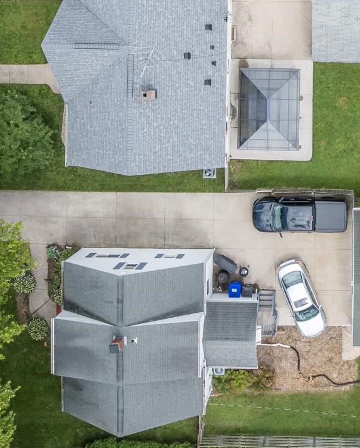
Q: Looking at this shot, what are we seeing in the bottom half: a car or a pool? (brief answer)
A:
car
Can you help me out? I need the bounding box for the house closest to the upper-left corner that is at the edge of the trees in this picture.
[41,0,236,176]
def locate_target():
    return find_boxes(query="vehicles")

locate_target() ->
[253,197,352,240]
[276,258,325,340]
